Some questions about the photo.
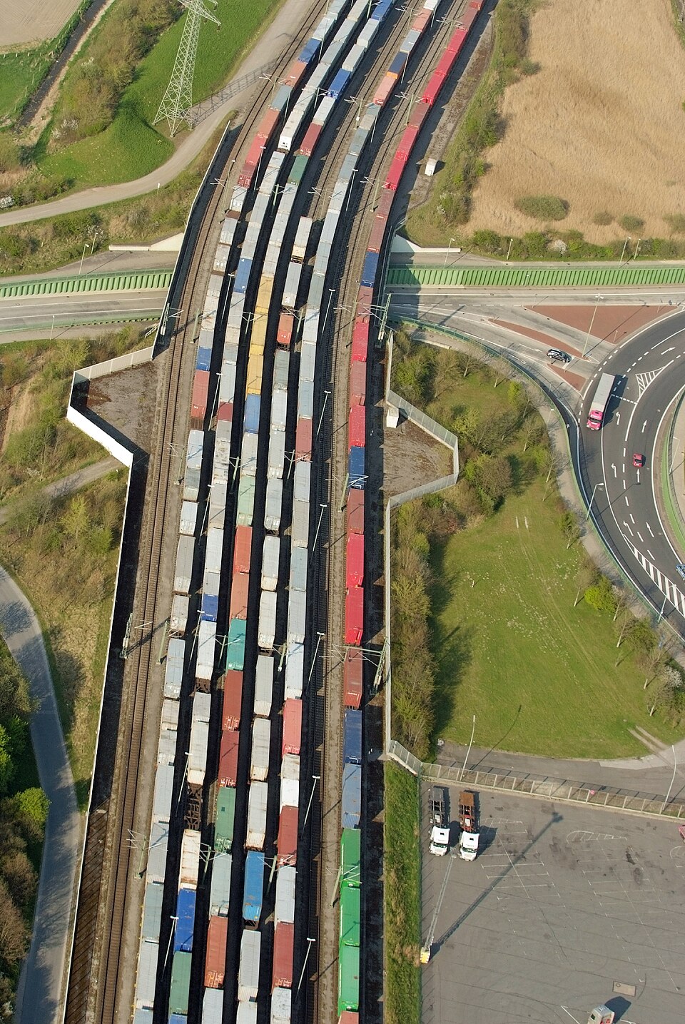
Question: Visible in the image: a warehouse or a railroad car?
railroad car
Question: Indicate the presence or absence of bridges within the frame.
Yes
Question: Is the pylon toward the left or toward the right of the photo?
left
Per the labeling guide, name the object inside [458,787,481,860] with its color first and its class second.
white truck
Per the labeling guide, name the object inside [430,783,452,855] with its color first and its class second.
white truck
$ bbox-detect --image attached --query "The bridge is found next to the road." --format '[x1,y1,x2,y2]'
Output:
[163,235,395,335]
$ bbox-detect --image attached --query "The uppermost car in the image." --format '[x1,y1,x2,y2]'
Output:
[547,348,571,362]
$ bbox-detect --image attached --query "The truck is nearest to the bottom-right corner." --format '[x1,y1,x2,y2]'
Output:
[588,1003,624,1024]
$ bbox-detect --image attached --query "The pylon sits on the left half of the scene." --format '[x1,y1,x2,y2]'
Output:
[157,0,221,139]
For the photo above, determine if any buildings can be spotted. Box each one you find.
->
[424,159,439,176]
[386,407,400,428]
